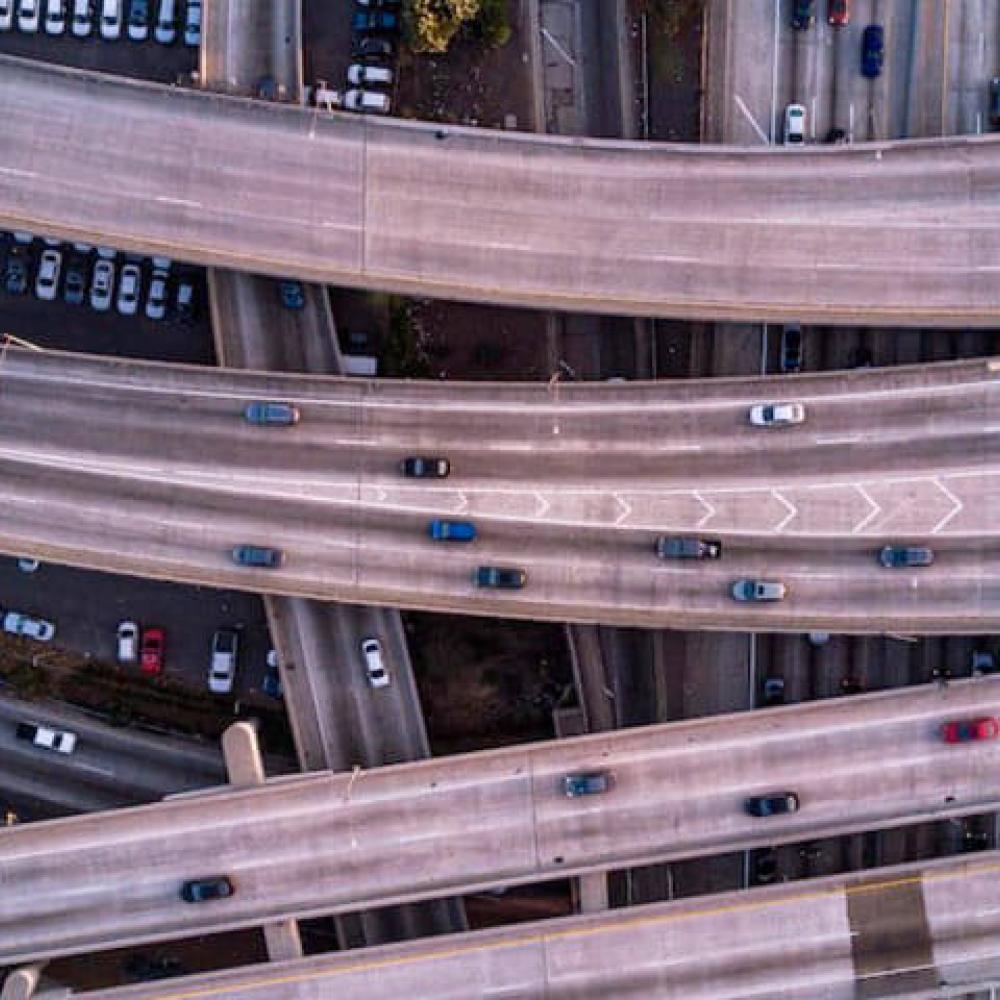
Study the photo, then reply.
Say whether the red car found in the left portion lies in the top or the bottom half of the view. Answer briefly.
bottom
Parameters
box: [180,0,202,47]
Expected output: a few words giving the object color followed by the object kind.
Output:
blue car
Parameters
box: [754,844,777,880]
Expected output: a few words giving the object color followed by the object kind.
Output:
black car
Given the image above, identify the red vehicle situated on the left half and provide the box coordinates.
[140,627,164,674]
